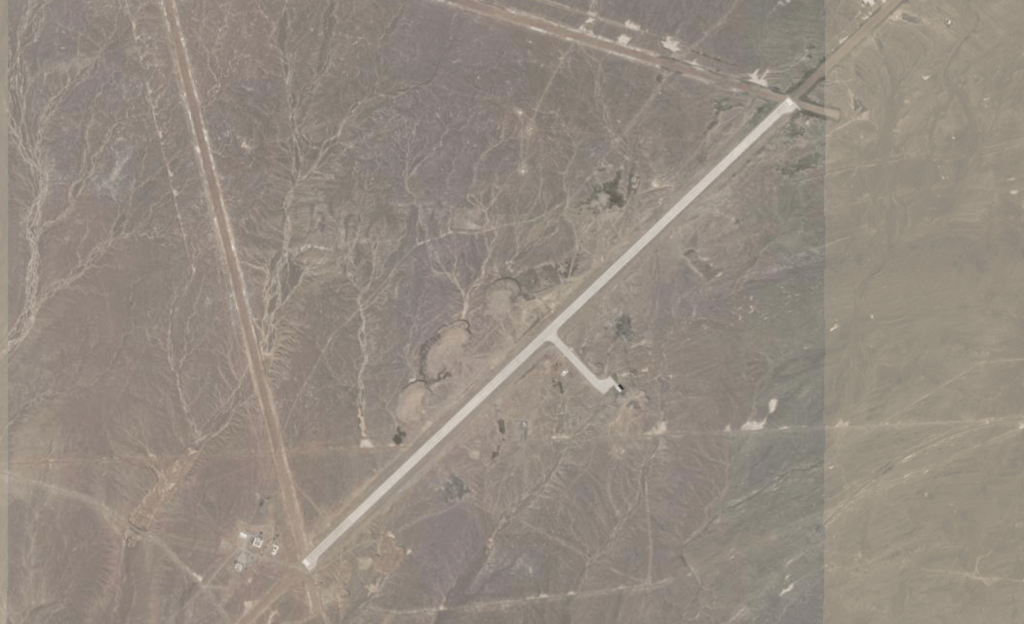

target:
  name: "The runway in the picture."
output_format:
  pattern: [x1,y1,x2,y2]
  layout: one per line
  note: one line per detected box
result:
[303,99,801,570]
